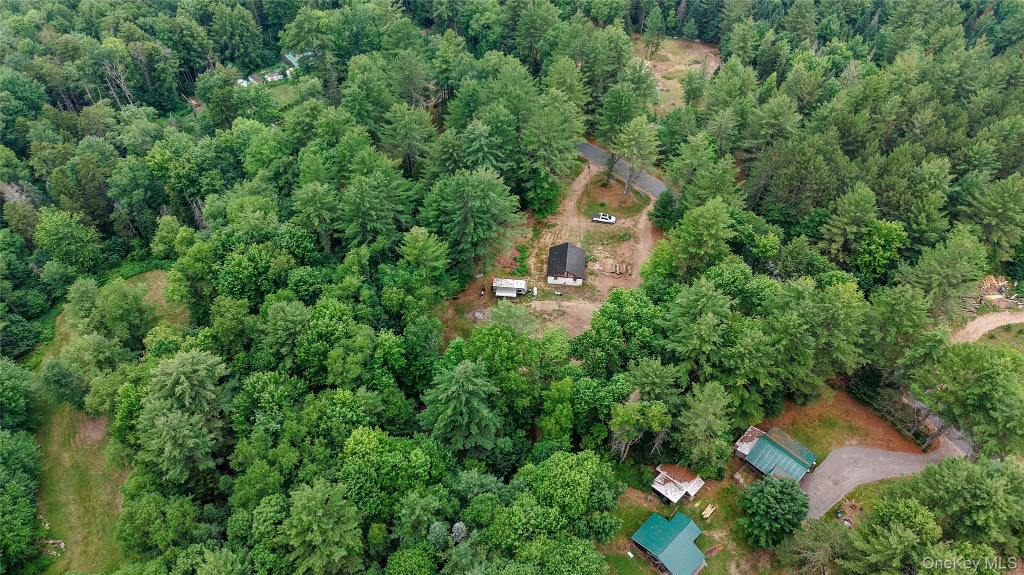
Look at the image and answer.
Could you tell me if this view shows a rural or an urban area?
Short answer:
rural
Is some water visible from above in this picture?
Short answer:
No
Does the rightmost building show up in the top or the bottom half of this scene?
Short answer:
bottom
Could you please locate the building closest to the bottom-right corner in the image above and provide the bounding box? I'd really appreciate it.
[734,426,820,491]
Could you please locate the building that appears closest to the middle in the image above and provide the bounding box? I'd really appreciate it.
[546,240,586,286]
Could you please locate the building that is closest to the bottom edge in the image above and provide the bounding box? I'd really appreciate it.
[630,511,707,575]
